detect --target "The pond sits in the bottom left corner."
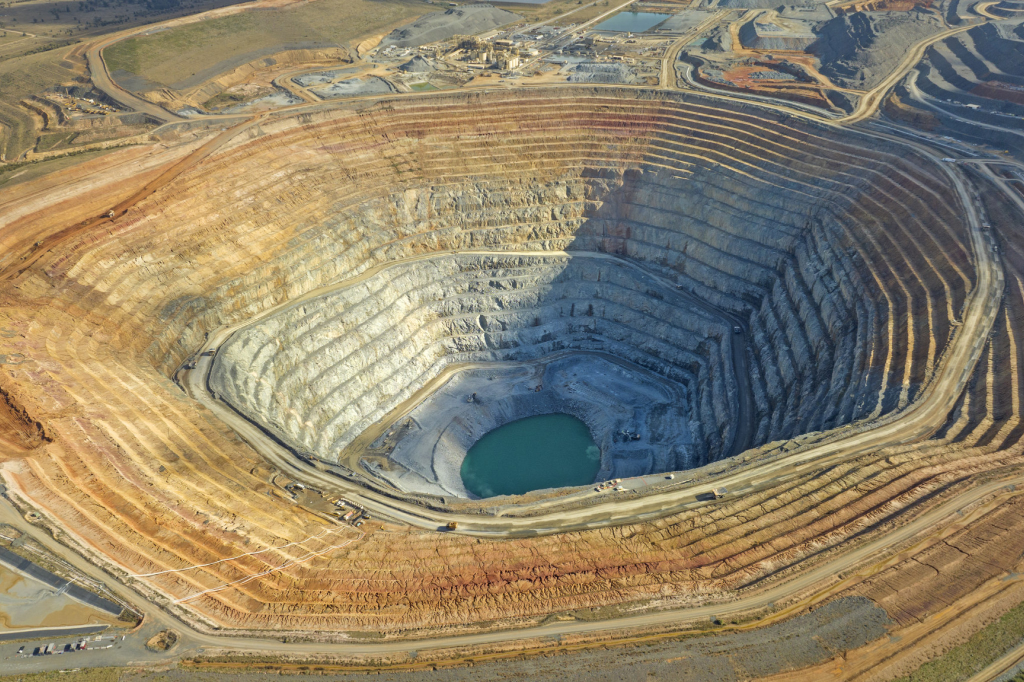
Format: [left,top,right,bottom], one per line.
[0,557,116,639]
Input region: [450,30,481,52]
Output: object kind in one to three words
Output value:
building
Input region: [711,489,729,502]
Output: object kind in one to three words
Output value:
vehicle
